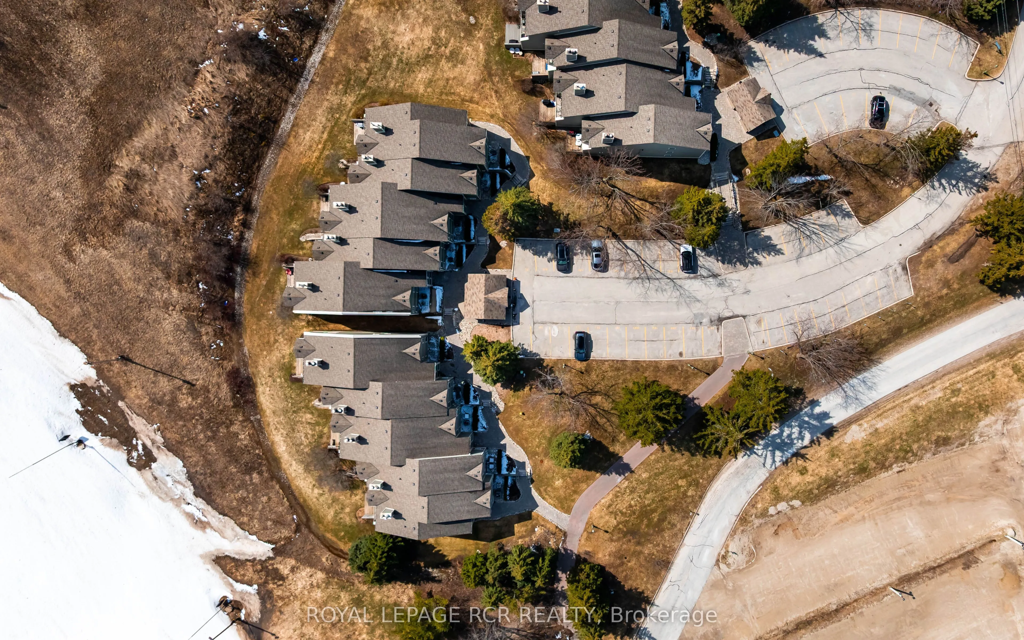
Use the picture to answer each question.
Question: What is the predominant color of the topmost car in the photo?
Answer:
black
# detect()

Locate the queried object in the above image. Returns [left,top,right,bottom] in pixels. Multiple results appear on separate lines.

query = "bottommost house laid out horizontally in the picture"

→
[363,483,494,541]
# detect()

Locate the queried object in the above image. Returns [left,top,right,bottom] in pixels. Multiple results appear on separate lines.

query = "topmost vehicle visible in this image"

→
[867,95,887,129]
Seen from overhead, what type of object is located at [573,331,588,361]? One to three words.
car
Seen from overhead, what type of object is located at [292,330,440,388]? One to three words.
house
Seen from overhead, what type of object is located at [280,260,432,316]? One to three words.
house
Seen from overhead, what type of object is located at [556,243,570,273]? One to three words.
car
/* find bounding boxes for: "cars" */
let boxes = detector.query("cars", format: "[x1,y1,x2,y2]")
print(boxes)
[573,331,588,361]
[556,243,570,273]
[679,244,693,273]
[867,95,887,129]
[590,240,604,271]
